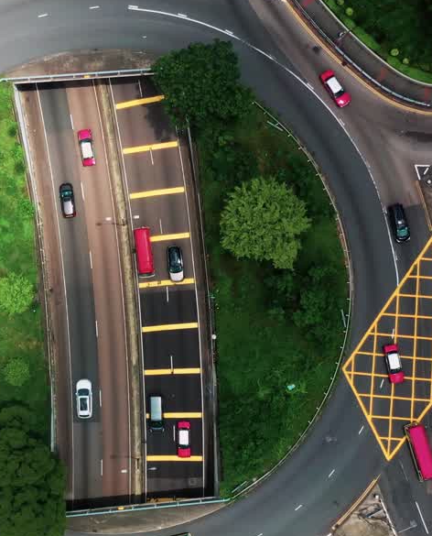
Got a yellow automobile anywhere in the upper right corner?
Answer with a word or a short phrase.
No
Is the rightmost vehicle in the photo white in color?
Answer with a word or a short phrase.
No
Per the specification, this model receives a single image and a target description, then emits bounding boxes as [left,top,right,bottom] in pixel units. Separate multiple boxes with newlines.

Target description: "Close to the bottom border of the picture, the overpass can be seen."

[49,492,236,526]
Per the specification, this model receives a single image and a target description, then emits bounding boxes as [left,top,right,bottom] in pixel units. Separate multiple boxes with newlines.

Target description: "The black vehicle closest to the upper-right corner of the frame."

[387,202,410,243]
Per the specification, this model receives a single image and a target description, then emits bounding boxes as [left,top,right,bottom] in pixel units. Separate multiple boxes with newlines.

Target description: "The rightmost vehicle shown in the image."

[401,420,432,482]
